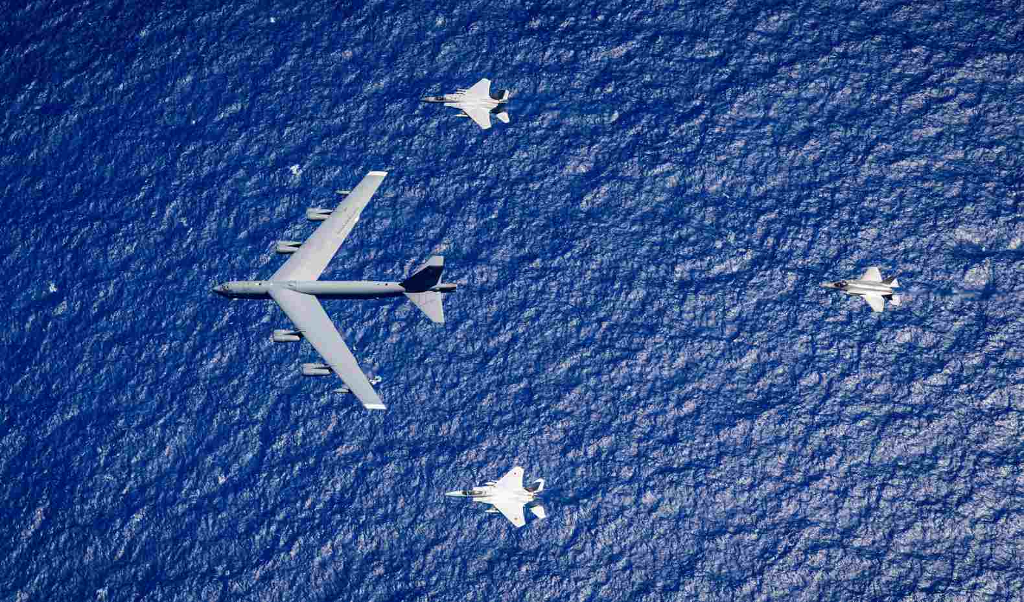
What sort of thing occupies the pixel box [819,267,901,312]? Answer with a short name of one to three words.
airplane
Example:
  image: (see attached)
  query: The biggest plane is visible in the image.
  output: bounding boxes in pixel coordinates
[212,171,456,409]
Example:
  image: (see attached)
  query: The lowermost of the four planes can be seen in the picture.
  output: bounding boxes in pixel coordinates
[447,467,547,526]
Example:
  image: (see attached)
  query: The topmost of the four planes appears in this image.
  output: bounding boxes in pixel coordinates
[418,79,510,129]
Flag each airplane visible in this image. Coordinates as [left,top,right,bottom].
[418,79,510,129]
[212,171,456,409]
[447,467,547,526]
[819,267,901,312]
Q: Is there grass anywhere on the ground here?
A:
No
